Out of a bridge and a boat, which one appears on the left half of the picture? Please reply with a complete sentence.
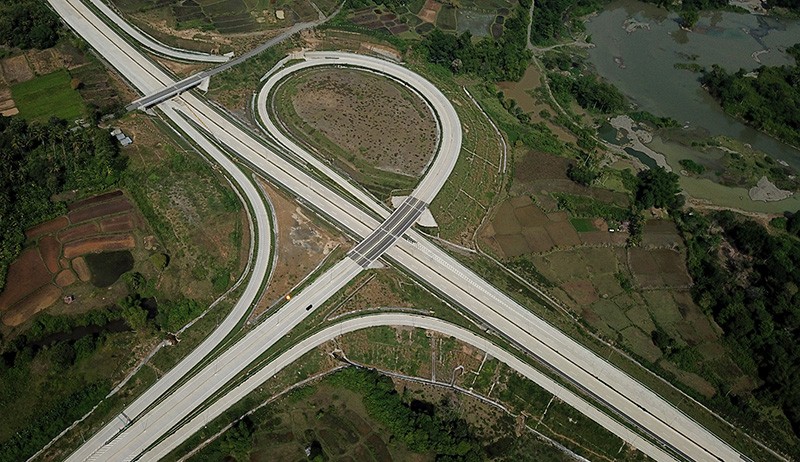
The one visible on the left half of the picture is a bridge.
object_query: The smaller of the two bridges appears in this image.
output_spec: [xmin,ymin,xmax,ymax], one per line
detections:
[128,76,209,117]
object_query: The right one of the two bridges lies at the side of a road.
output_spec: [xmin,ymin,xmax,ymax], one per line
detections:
[341,195,438,269]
